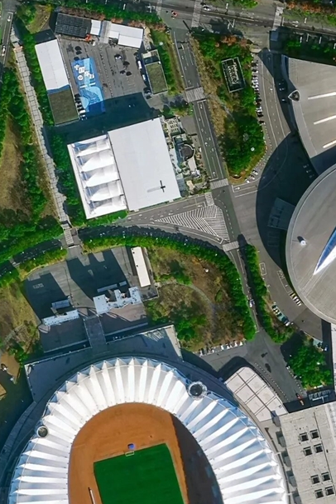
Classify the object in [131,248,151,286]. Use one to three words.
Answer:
shed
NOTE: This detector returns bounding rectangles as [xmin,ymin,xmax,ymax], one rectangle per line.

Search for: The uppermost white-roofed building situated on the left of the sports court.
[33,38,69,95]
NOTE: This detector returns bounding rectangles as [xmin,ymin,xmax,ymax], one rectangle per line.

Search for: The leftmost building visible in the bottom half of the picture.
[41,299,80,325]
